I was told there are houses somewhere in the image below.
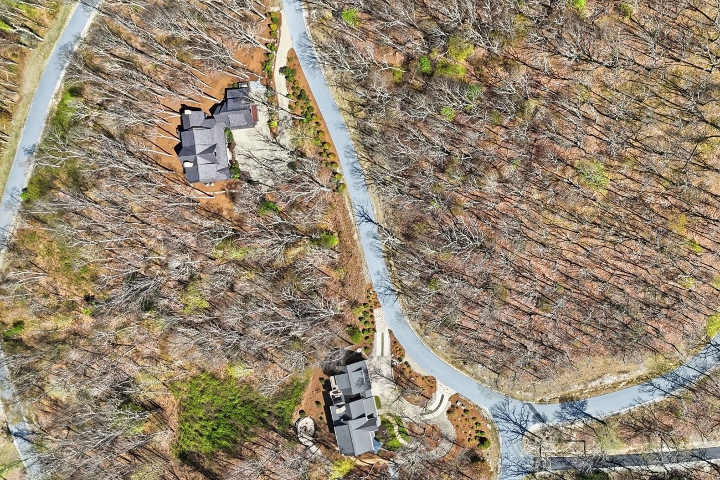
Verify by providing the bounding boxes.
[178,89,260,183]
[329,358,383,456]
